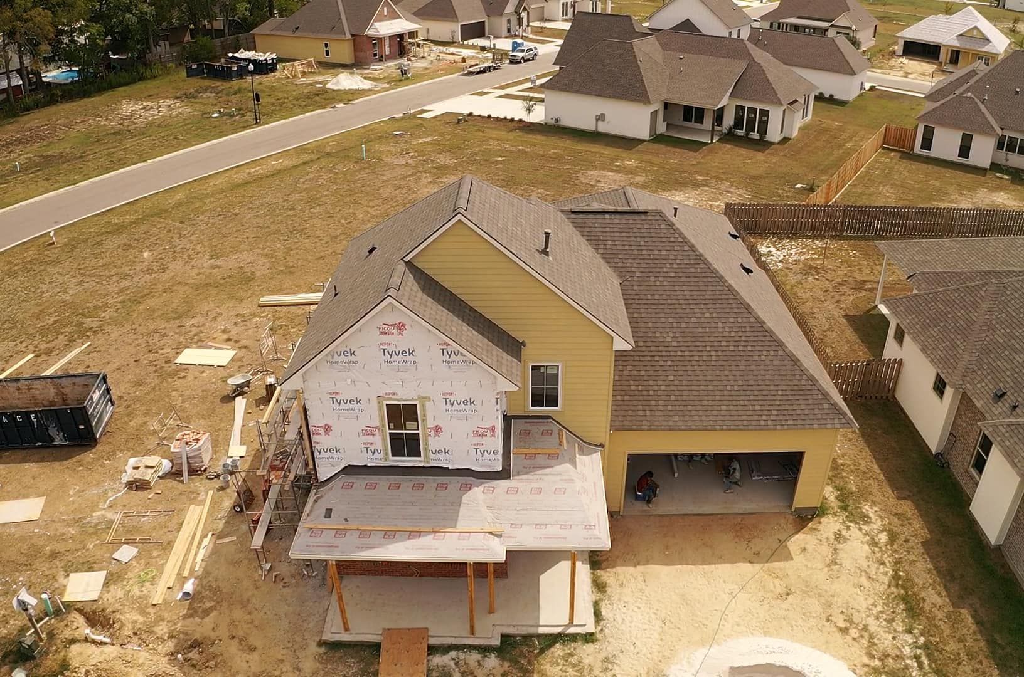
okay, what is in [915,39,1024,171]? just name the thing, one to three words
house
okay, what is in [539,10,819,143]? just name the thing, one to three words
house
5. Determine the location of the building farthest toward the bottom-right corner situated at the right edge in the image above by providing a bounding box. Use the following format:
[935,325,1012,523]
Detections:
[874,237,1024,560]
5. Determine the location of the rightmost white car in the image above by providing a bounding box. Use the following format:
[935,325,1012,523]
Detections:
[506,40,540,61]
